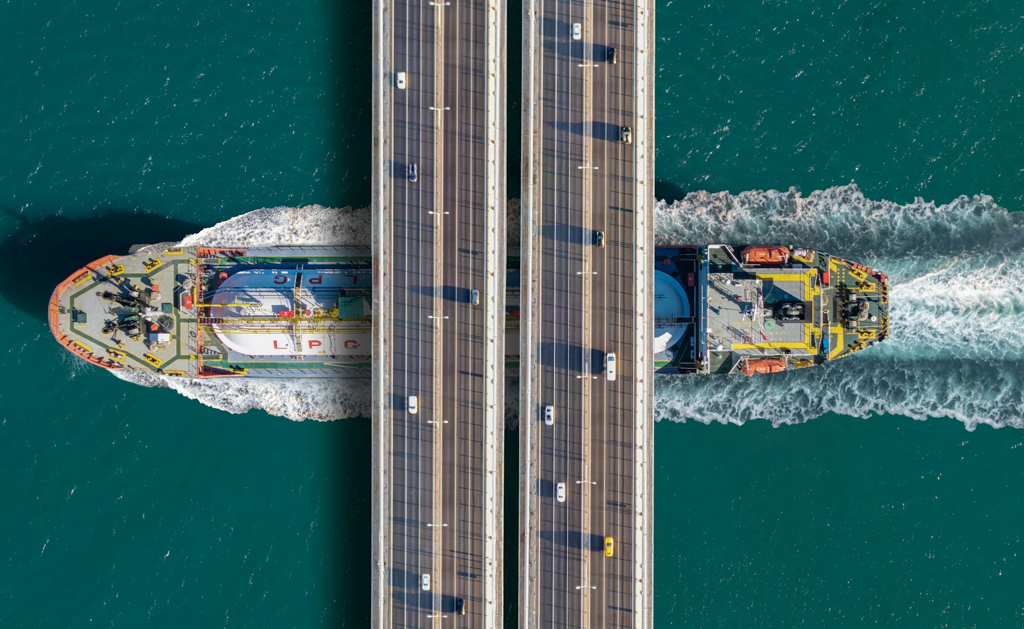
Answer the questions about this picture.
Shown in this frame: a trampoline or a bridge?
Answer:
bridge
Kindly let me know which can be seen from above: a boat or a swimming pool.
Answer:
boat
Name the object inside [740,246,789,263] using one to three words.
boat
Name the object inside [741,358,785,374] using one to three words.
boat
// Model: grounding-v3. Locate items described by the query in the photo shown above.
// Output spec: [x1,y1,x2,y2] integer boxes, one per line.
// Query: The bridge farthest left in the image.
[371,0,507,629]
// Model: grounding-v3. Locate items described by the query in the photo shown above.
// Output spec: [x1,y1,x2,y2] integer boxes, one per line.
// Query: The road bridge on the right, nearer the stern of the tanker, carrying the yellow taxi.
[519,0,656,629]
